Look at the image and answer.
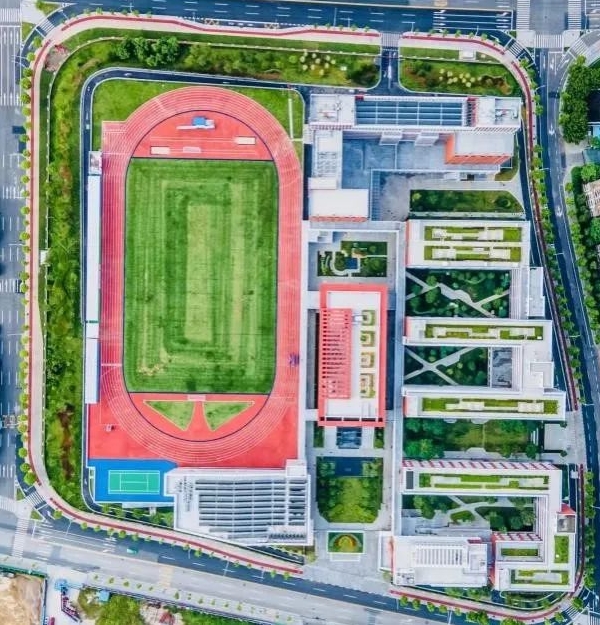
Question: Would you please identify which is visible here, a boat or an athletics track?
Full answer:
It is an athletics track that can be seen here.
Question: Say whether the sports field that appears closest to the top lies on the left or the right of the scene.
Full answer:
You can find the sports field that appears closest to the top on the left side of the picture.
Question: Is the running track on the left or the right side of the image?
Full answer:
The running track is on the left side of the image.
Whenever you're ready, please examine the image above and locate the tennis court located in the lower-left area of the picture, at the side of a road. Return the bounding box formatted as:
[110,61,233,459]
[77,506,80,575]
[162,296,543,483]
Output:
[87,459,176,504]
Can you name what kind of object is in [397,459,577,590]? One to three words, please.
building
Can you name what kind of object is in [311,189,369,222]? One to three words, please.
building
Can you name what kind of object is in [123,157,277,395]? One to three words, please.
sports field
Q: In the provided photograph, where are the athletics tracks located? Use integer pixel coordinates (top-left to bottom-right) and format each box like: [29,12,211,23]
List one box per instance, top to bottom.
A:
[88,87,300,467]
